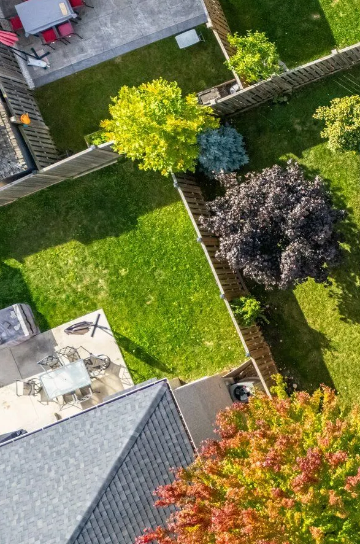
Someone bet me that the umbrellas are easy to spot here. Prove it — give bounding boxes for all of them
[0,33,47,62]
[60,313,102,338]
